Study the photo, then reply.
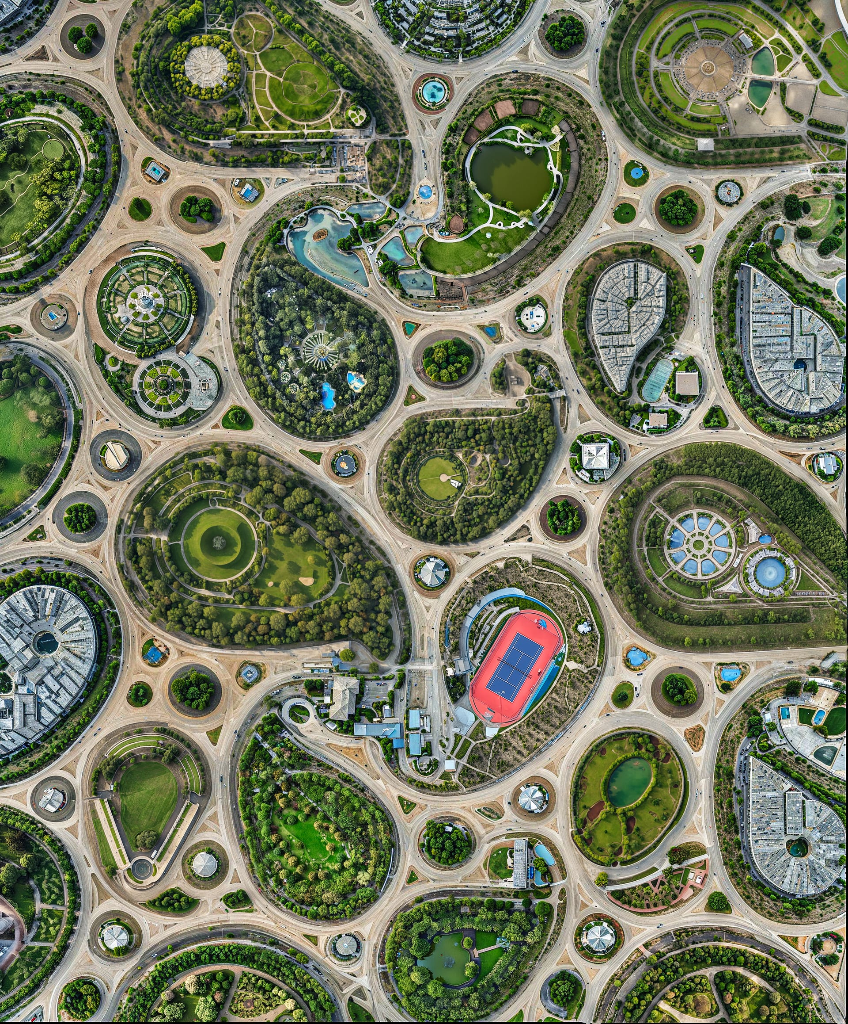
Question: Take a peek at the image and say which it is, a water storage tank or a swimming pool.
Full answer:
Visible in the photo is a swimming pool.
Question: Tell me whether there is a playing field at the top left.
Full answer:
No, looking at the top left, there is no playing field.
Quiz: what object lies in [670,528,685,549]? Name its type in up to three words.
swimming pool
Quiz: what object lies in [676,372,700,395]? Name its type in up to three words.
building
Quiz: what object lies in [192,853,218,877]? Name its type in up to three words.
building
